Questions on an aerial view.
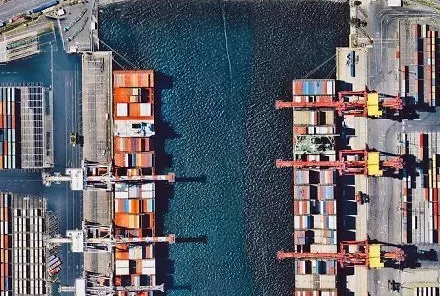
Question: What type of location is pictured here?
port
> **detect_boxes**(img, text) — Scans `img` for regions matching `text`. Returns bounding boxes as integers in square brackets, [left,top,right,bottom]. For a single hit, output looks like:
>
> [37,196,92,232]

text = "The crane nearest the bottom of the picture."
[56,273,165,296]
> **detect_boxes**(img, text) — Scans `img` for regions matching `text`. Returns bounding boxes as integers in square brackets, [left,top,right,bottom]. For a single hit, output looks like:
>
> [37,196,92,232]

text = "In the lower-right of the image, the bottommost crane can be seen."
[274,239,407,273]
